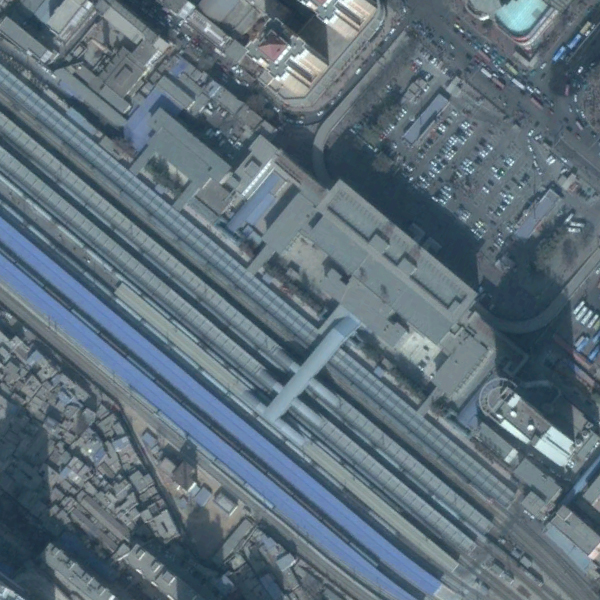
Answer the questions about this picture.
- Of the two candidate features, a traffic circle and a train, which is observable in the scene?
train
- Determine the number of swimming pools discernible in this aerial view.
zero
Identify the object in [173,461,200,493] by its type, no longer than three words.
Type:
house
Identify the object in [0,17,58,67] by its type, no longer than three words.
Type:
building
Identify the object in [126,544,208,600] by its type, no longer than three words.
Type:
building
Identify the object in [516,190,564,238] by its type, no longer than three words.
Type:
shed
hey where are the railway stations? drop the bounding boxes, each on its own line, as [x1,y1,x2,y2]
[247,178,500,407]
